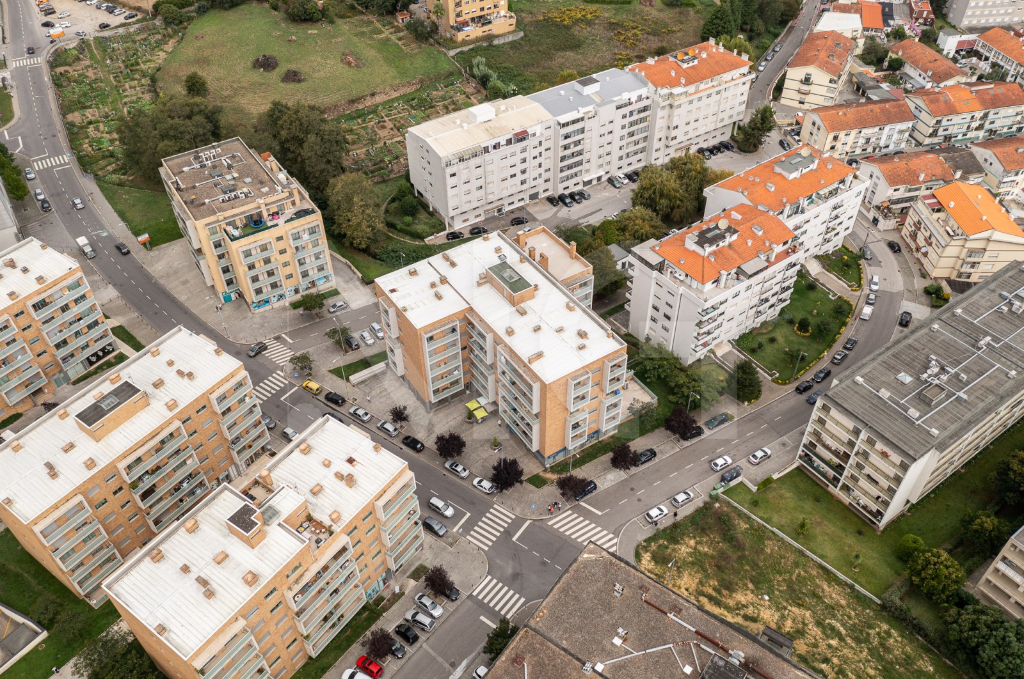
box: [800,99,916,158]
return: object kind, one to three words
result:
house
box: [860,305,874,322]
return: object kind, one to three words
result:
vehicle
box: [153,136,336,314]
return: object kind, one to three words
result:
building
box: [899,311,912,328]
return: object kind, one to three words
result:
vehicle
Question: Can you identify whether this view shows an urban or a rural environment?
urban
